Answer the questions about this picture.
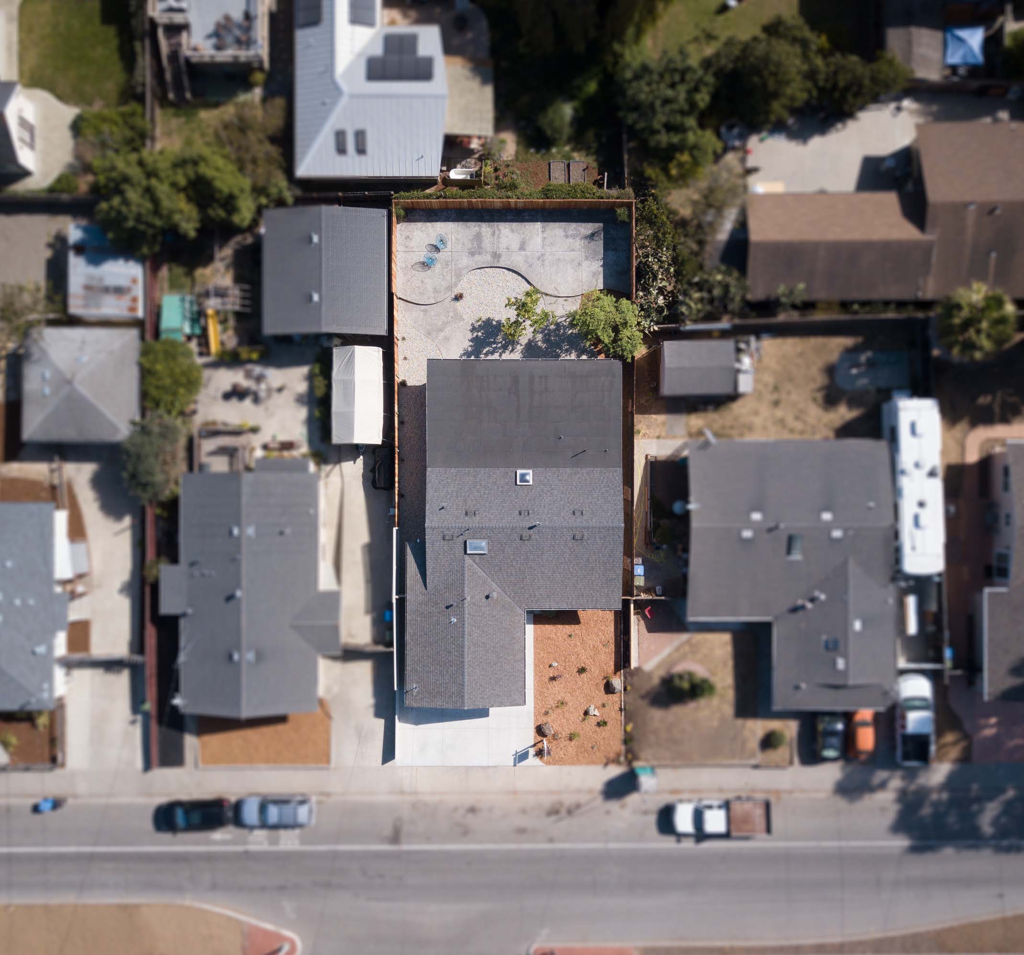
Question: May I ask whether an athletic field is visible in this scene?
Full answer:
No, there's no athletic field here.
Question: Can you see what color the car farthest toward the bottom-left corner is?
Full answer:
In this view, the car farthest toward the bottom-left corner is black.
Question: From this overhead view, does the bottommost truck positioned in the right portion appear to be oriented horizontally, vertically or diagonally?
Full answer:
Seen from above, the bottommost truck positioned in the right portion lies horizontally.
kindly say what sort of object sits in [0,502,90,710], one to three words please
house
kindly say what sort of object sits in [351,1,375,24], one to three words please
solar panel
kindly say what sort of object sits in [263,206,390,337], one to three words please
building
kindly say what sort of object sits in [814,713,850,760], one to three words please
car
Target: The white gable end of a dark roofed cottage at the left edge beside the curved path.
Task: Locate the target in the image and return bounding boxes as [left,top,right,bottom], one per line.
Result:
[0,85,36,174]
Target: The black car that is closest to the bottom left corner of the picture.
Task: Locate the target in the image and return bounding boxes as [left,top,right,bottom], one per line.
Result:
[158,797,231,836]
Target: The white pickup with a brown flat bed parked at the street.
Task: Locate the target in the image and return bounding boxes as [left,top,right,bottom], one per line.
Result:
[674,797,768,837]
